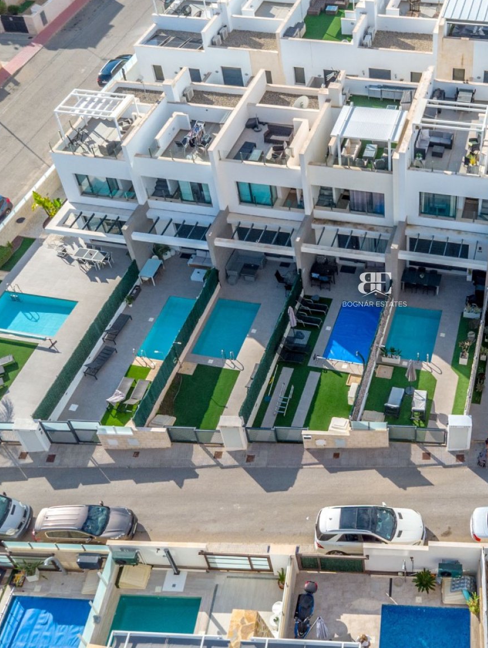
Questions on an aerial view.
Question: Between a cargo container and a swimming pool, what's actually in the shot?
swimming pool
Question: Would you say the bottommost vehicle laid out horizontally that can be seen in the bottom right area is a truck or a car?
car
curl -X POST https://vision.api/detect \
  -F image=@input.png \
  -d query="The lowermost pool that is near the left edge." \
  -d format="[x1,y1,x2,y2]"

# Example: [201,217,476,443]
[0,595,96,648]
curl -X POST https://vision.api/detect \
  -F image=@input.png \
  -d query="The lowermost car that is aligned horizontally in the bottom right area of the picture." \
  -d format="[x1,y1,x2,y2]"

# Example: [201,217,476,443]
[314,503,425,556]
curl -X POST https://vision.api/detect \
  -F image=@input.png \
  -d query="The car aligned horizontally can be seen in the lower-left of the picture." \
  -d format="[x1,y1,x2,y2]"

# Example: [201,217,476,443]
[29,498,137,547]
